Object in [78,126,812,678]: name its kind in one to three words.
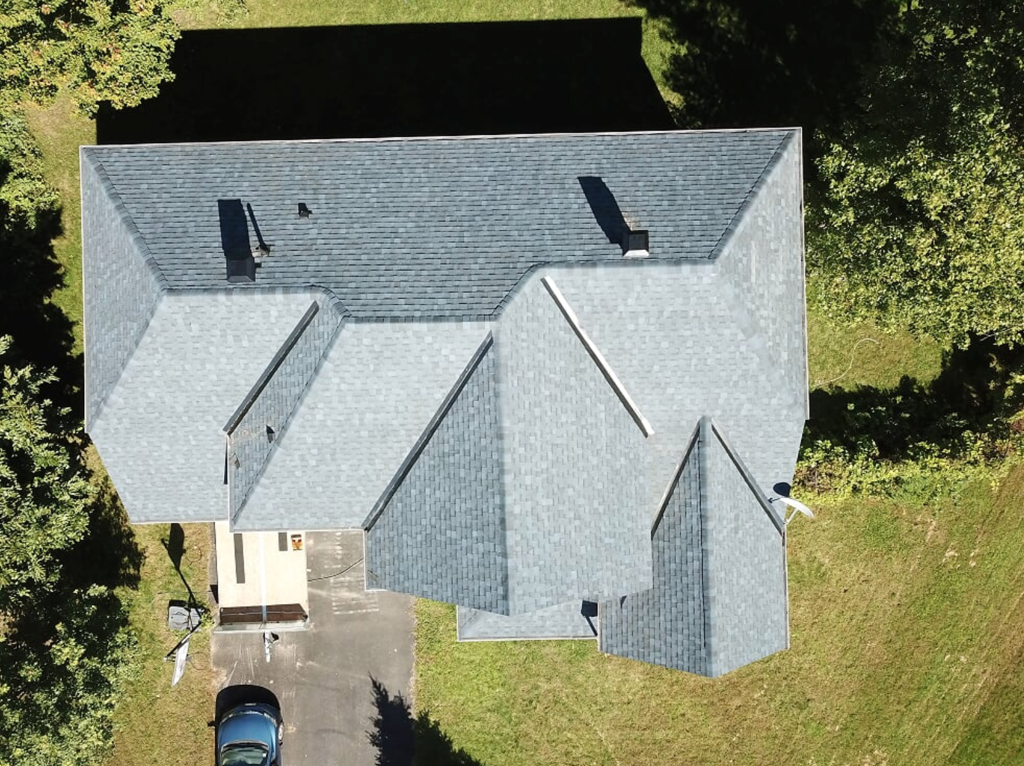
house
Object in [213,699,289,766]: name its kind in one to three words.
car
